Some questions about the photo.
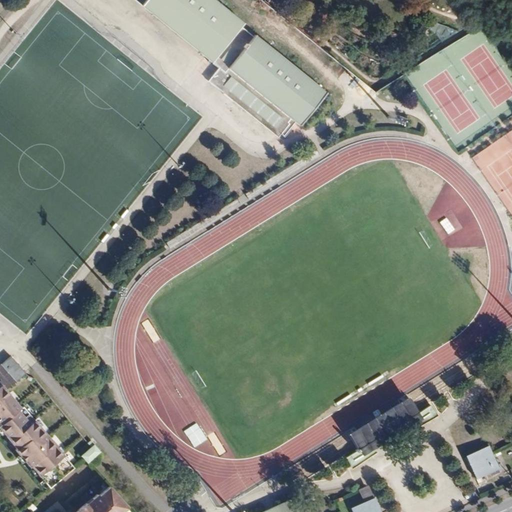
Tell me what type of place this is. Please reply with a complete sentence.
This looks like a sports ground.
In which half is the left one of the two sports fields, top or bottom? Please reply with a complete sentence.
The top half of the photo is where the left one of the two sports fields is.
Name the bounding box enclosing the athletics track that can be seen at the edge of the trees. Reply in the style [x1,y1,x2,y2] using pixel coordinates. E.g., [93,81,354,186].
[116,140,512,510]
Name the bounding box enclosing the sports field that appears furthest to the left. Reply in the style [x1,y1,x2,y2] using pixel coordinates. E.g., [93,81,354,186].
[0,0,203,334]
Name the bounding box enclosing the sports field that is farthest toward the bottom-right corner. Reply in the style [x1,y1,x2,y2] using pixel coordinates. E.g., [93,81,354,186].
[148,160,488,457]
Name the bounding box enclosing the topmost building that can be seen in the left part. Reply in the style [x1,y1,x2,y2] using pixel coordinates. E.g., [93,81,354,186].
[144,0,246,62]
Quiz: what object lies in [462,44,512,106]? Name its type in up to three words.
tennis court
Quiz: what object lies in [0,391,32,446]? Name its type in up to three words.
house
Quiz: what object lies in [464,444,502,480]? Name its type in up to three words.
building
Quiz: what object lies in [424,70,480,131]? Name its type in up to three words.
tennis court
